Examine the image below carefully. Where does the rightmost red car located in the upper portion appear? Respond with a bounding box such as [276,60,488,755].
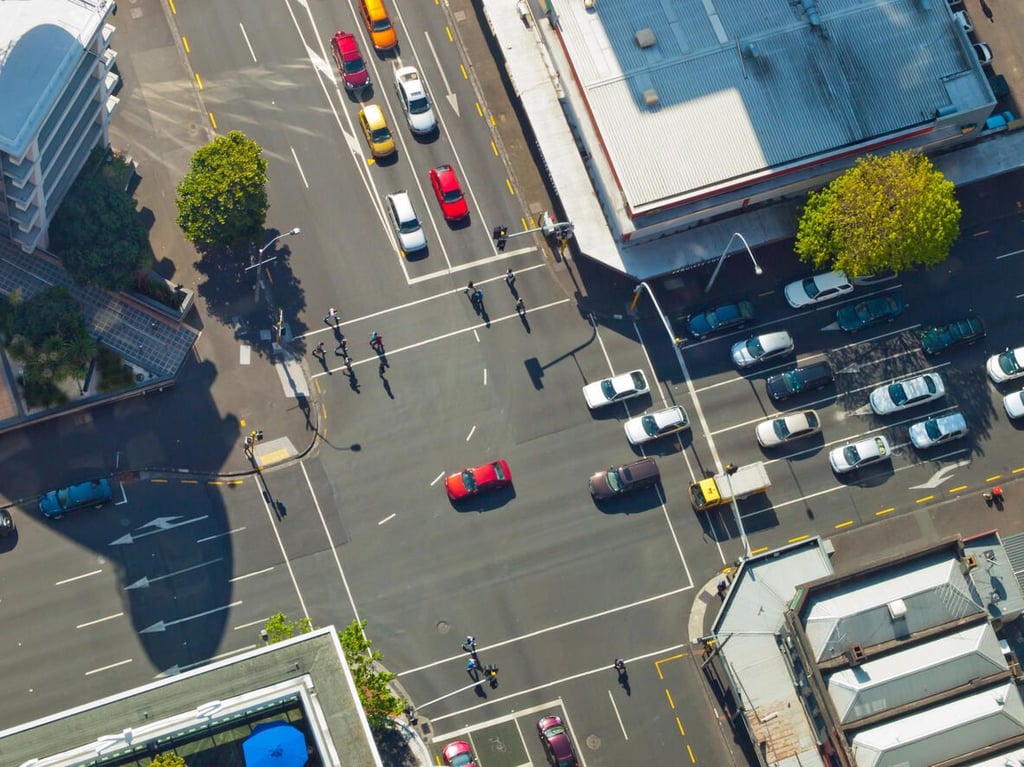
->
[428,164,467,223]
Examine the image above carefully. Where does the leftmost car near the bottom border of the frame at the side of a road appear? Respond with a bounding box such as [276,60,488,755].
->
[445,740,479,767]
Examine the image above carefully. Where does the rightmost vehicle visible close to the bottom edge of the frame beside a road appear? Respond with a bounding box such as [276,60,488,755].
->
[537,713,581,767]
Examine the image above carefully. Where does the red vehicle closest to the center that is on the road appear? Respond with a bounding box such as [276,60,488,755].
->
[443,456,515,501]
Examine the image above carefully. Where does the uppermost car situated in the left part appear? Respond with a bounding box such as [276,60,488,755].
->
[351,0,396,52]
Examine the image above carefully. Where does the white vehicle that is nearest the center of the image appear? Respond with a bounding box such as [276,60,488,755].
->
[582,368,651,411]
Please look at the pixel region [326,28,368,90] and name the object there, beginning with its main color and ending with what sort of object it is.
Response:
red car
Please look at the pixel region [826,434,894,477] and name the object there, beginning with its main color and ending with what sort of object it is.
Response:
white car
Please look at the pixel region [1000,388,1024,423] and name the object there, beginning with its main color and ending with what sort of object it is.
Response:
white car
